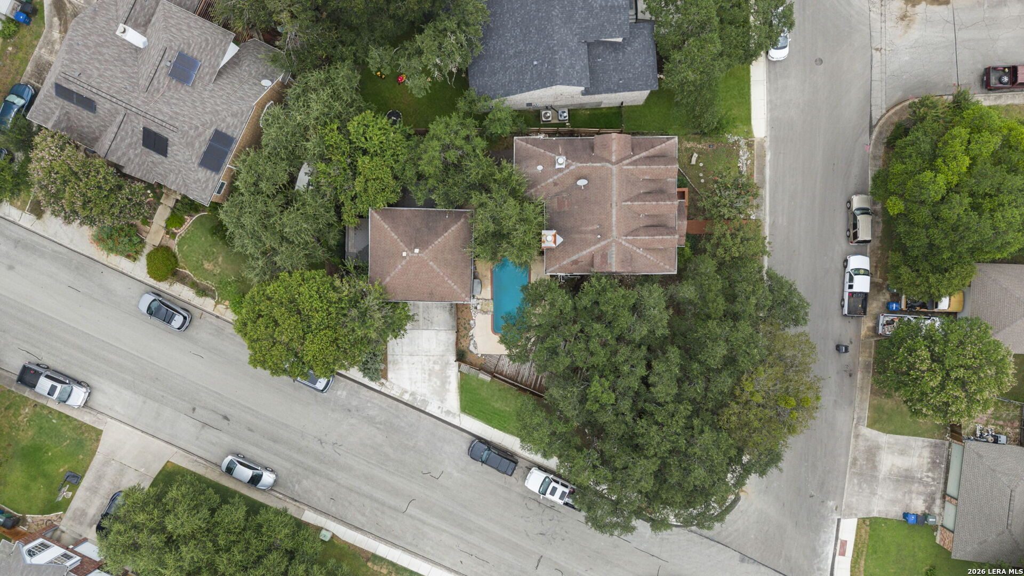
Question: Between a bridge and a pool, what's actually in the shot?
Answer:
pool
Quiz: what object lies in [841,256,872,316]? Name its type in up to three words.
truck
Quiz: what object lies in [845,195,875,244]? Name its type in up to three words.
car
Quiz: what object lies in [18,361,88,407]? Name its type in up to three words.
truck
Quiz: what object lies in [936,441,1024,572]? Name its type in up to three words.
house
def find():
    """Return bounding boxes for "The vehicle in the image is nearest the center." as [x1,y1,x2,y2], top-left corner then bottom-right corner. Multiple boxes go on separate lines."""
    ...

[466,437,523,479]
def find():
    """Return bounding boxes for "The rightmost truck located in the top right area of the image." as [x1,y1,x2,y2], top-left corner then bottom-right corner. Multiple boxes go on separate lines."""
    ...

[980,64,1024,91]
